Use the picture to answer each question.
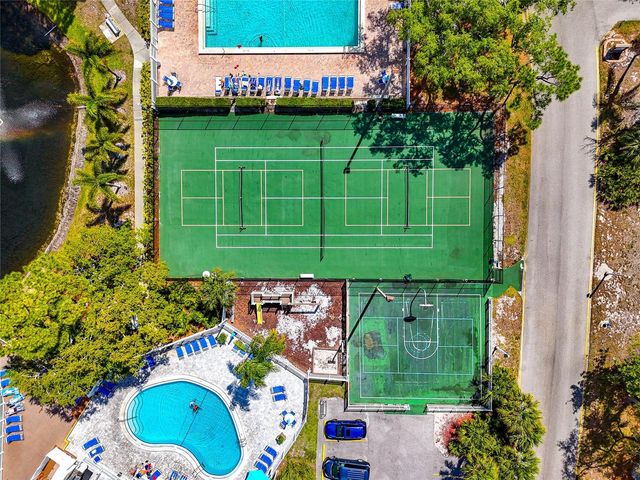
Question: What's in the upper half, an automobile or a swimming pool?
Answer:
swimming pool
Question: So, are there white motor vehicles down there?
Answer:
No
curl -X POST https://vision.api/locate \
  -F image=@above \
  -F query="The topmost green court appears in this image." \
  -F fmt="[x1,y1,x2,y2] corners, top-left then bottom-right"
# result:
[158,113,492,280]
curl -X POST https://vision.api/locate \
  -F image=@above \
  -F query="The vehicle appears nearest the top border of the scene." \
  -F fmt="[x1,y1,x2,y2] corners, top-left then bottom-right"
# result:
[326,420,368,442]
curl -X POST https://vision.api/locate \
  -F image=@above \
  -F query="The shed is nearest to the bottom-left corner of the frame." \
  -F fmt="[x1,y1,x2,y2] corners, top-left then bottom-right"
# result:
[32,436,89,480]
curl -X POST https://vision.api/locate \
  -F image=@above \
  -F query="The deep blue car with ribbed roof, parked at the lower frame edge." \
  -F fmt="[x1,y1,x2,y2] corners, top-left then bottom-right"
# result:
[325,458,370,480]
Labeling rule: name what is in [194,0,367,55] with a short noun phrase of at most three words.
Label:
swimming pool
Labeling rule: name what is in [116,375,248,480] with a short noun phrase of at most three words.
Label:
swimming pool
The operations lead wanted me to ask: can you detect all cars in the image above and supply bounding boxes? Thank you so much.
[325,458,370,480]
[326,420,368,442]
